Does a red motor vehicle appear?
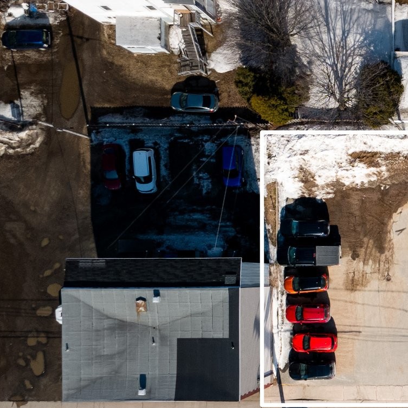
Yes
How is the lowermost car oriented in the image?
from left to right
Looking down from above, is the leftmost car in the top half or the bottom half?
top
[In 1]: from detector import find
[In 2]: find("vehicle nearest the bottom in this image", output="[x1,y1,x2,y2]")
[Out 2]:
[290,359,338,383]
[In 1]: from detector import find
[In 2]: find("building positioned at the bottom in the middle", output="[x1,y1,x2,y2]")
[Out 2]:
[62,258,274,402]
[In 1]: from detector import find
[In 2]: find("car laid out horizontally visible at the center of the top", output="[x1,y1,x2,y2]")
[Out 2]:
[173,89,219,113]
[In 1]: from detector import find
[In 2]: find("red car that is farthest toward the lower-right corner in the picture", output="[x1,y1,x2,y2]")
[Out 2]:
[292,331,338,354]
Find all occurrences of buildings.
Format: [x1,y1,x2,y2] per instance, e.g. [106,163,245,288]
[65,0,234,52]
[62,258,274,402]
